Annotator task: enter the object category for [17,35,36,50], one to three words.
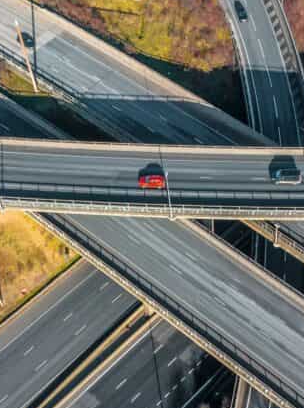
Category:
car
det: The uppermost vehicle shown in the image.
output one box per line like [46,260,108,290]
[235,6,247,21]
